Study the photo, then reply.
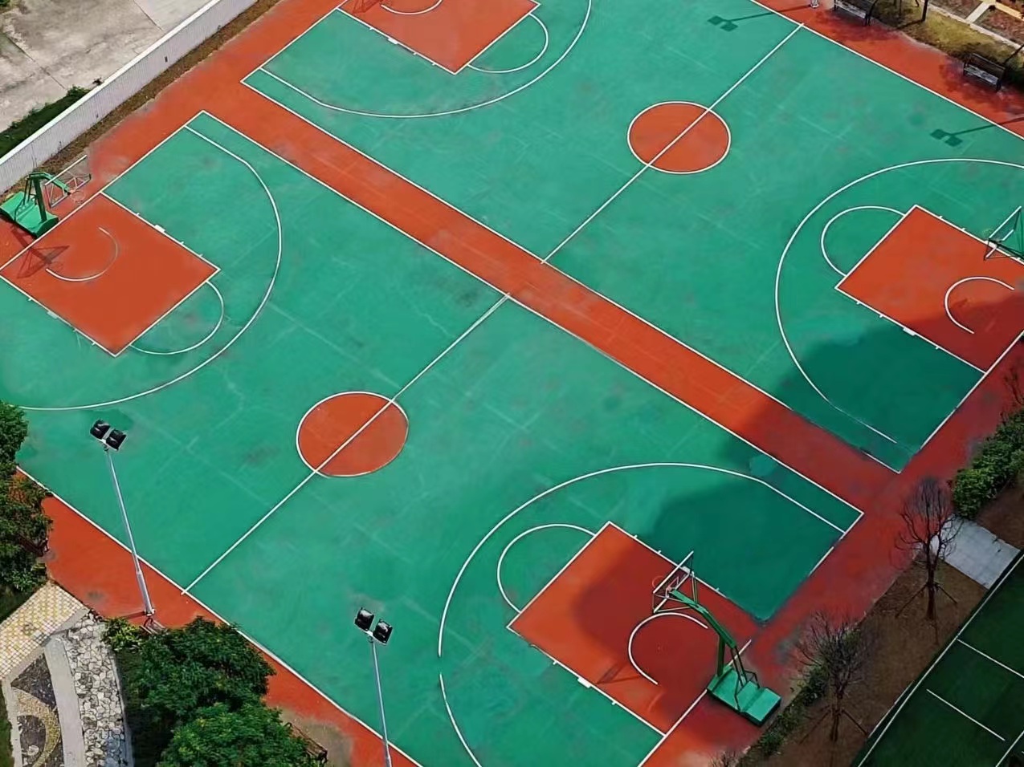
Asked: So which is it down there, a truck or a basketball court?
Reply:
basketball court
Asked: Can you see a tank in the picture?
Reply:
No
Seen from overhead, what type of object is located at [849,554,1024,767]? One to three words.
sports court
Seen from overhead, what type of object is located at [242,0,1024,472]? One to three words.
basketball court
